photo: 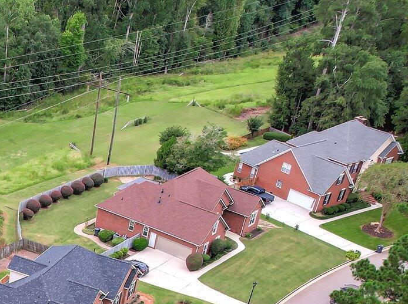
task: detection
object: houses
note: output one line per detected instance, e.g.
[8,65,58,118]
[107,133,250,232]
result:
[93,163,266,258]
[0,245,148,304]
[236,115,408,211]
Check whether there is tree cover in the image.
Yes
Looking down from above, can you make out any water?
No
